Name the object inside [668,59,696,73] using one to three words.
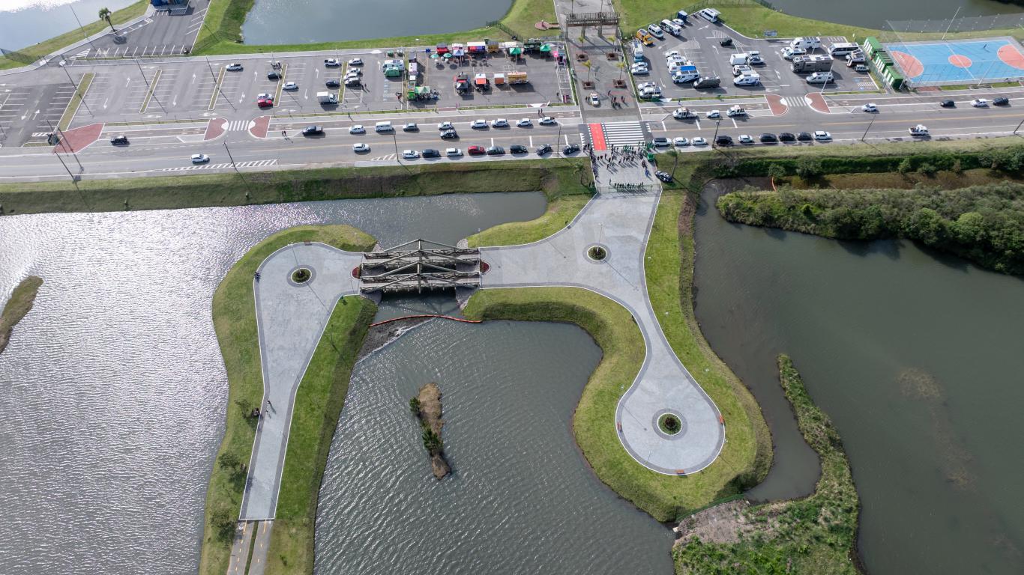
camper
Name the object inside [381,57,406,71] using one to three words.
camper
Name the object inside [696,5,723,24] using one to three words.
vehicle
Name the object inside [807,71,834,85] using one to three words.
vehicle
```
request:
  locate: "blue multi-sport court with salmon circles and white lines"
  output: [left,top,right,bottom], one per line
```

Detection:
[882,36,1024,87]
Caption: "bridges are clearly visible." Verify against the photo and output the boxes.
[362,238,480,294]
